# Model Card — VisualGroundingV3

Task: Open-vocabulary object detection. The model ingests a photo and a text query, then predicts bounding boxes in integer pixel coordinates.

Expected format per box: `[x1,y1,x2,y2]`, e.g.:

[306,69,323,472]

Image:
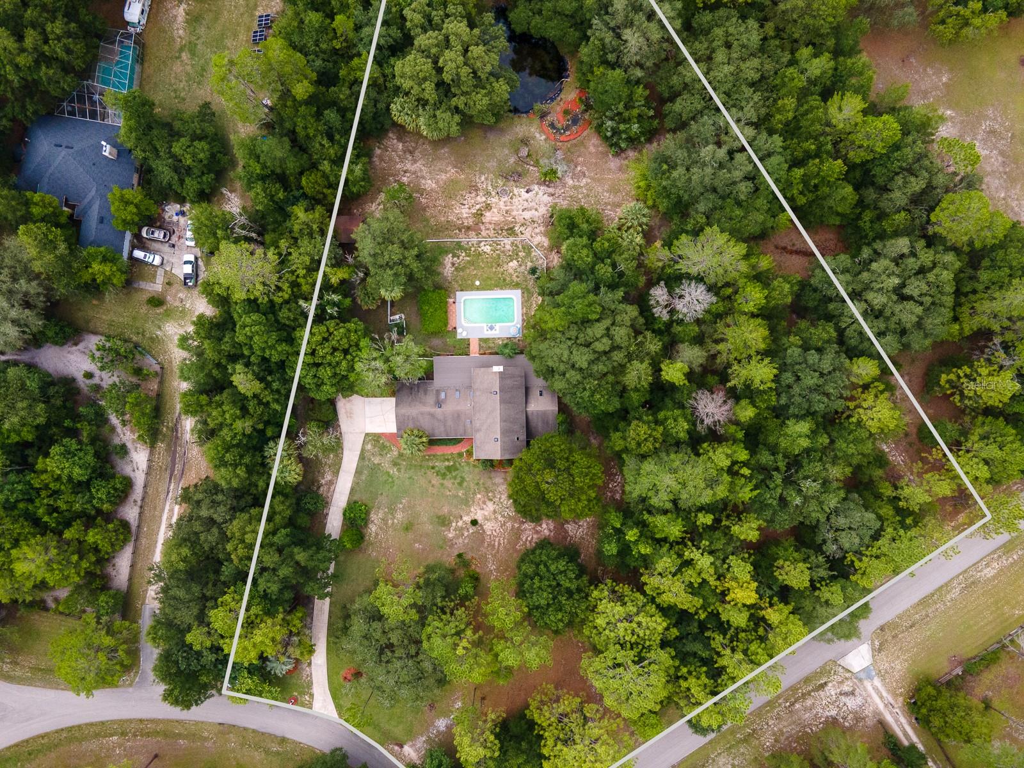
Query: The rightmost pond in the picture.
[493,0,568,114]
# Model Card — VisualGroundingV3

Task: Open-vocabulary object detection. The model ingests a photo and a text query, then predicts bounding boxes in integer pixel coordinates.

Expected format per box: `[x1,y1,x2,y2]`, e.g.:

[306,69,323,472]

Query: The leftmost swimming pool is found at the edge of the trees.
[64,28,145,122]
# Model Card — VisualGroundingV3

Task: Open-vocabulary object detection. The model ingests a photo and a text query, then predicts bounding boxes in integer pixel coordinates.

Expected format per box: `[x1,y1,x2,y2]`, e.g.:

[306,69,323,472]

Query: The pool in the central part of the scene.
[456,290,522,339]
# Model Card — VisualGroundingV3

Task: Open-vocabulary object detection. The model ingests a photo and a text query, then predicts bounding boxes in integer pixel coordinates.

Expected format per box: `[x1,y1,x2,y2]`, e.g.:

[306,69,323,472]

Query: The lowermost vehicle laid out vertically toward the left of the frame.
[182,254,198,288]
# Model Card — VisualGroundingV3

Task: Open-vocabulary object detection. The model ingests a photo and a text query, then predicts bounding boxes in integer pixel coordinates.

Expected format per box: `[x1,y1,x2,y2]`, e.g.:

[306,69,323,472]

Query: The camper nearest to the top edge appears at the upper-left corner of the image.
[124,0,148,38]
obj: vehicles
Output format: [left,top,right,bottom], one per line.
[141,226,171,243]
[182,254,198,288]
[124,0,148,38]
[132,249,164,266]
[185,220,199,247]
